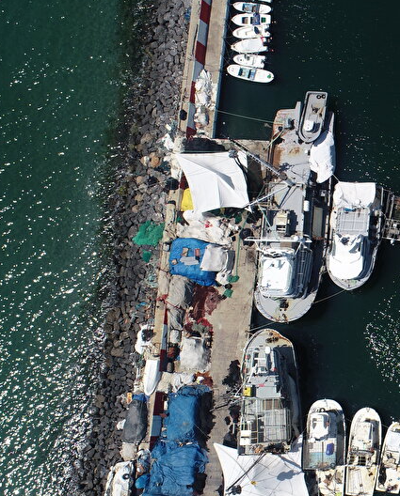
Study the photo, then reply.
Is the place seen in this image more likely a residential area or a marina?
marina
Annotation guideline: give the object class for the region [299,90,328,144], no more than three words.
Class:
boat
